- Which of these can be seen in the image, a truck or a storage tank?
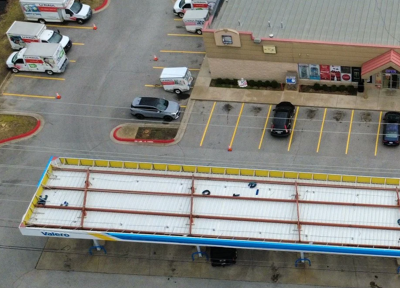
truck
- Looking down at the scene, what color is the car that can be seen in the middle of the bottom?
black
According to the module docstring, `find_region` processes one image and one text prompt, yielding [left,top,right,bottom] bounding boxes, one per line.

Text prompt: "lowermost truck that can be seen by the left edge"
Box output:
[5,42,69,76]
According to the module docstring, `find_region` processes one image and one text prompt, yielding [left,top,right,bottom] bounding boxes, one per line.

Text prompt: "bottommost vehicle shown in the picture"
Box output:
[210,246,240,273]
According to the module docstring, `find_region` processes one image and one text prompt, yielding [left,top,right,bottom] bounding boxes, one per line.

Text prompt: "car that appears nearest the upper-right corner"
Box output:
[381,111,400,147]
